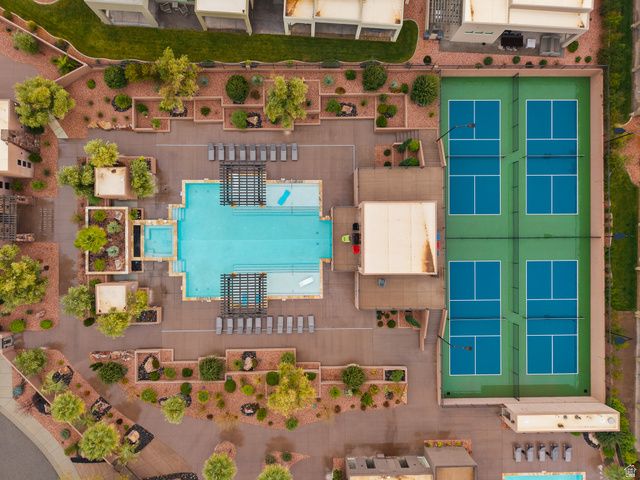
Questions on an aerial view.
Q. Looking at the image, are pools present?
Yes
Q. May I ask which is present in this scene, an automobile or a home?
home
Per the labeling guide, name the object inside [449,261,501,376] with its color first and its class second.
blue sports court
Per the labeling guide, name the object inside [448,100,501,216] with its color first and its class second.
blue sports court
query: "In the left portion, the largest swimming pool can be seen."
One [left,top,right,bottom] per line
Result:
[169,178,332,301]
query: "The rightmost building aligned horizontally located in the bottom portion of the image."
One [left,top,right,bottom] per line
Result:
[502,406,619,432]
